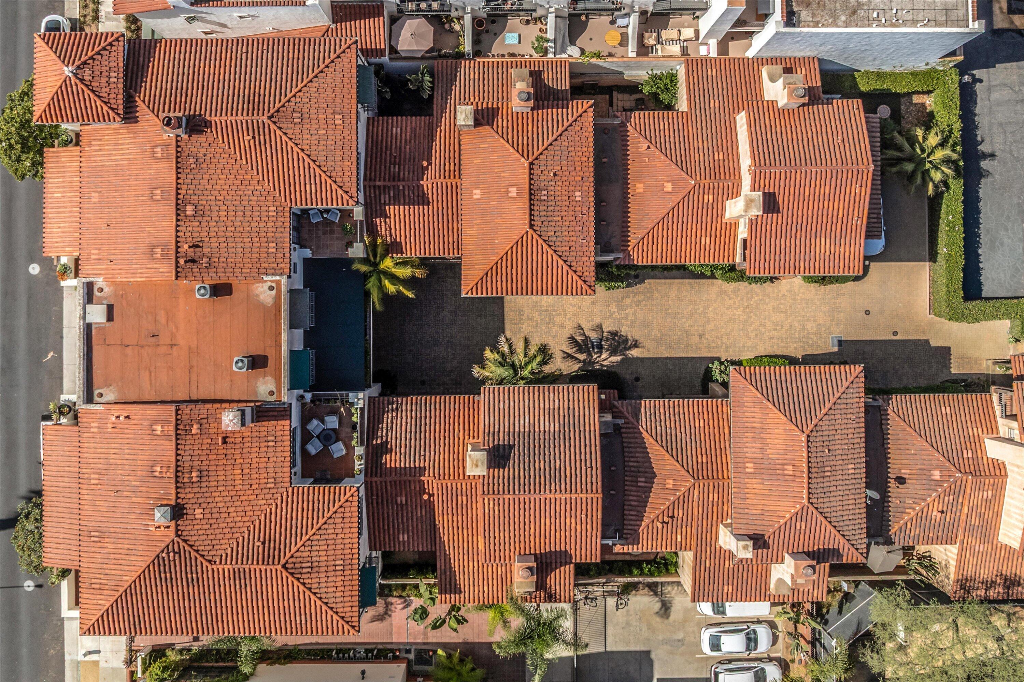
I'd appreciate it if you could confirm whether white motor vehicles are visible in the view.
Yes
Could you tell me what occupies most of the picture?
buildings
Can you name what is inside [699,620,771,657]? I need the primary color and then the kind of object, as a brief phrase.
white car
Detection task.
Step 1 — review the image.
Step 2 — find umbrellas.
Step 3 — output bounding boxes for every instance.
[391,19,434,58]
[865,540,904,575]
